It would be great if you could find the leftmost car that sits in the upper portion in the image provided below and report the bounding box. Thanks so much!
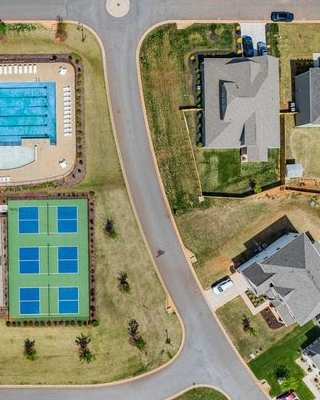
[242,35,254,55]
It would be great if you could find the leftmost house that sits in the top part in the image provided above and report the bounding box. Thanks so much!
[200,53,279,163]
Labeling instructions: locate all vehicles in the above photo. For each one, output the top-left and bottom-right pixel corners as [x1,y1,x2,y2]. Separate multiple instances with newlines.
[255,43,267,55]
[211,278,234,295]
[242,35,254,55]
[275,391,297,400]
[269,11,293,22]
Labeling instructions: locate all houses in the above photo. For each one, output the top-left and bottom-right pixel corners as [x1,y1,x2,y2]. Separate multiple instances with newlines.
[236,234,320,333]
[297,55,320,126]
[304,342,320,384]
[200,53,279,163]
